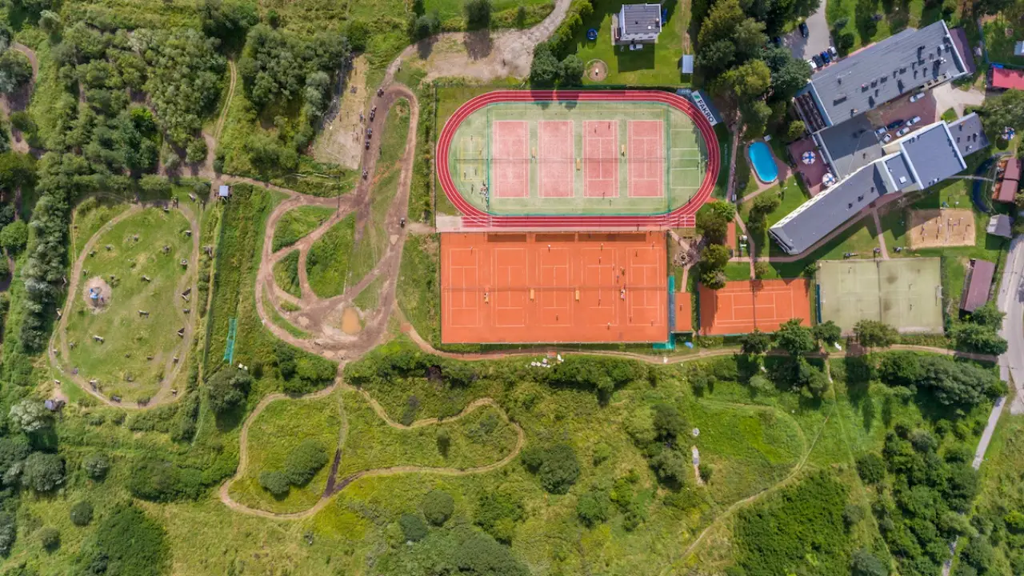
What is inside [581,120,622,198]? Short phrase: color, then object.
pink tennis court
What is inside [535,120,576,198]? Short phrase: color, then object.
pink tennis court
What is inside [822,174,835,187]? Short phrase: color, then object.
white umbrella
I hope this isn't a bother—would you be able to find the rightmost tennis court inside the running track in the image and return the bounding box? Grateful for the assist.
[626,120,667,198]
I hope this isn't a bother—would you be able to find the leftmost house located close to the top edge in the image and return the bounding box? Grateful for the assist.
[621,3,662,42]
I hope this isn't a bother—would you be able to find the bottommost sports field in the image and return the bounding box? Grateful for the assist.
[816,257,945,336]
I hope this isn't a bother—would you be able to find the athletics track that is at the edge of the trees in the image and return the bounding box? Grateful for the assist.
[436,90,720,227]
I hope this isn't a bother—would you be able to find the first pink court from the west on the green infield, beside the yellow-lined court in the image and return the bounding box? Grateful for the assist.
[490,120,531,198]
